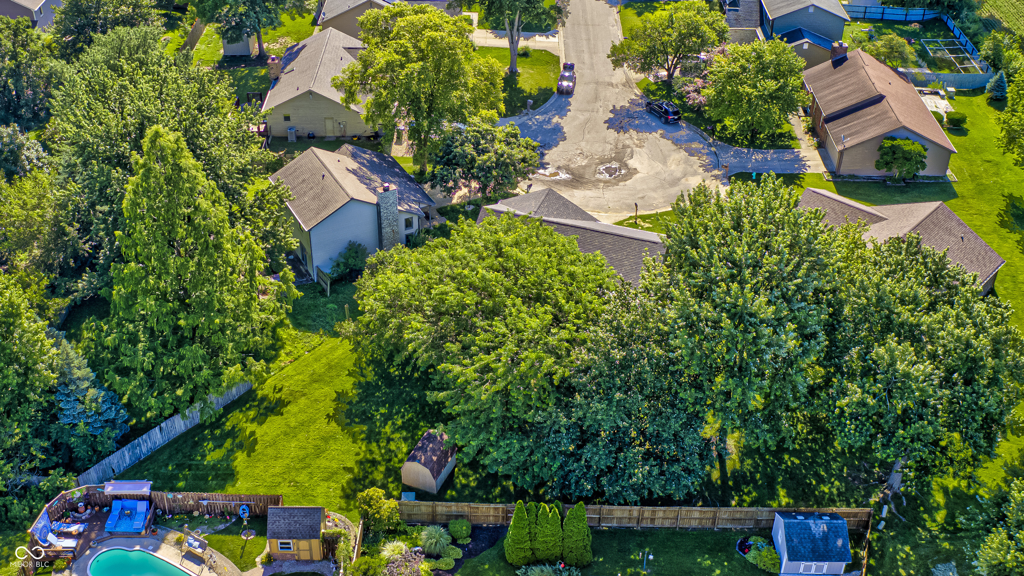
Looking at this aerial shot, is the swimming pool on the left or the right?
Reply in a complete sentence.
You can find the swimming pool on the left side of the picture.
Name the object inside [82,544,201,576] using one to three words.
swimming pool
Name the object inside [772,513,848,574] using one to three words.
shed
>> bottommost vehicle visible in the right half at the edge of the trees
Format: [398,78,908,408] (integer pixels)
[641,98,684,122]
